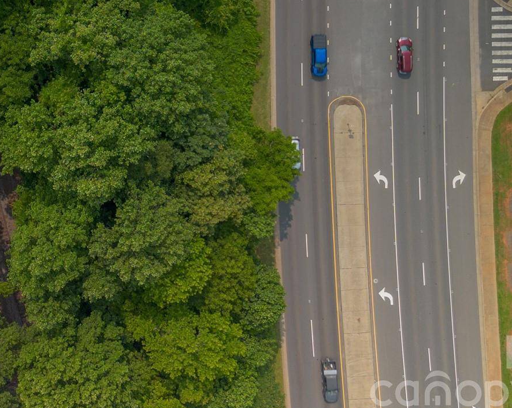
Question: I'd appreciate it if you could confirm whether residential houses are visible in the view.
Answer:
No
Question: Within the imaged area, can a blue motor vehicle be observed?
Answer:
Yes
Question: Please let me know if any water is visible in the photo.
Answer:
No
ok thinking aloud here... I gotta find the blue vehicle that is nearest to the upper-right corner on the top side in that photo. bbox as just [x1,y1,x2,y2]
[310,34,328,77]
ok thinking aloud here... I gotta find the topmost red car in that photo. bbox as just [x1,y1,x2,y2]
[395,37,414,74]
